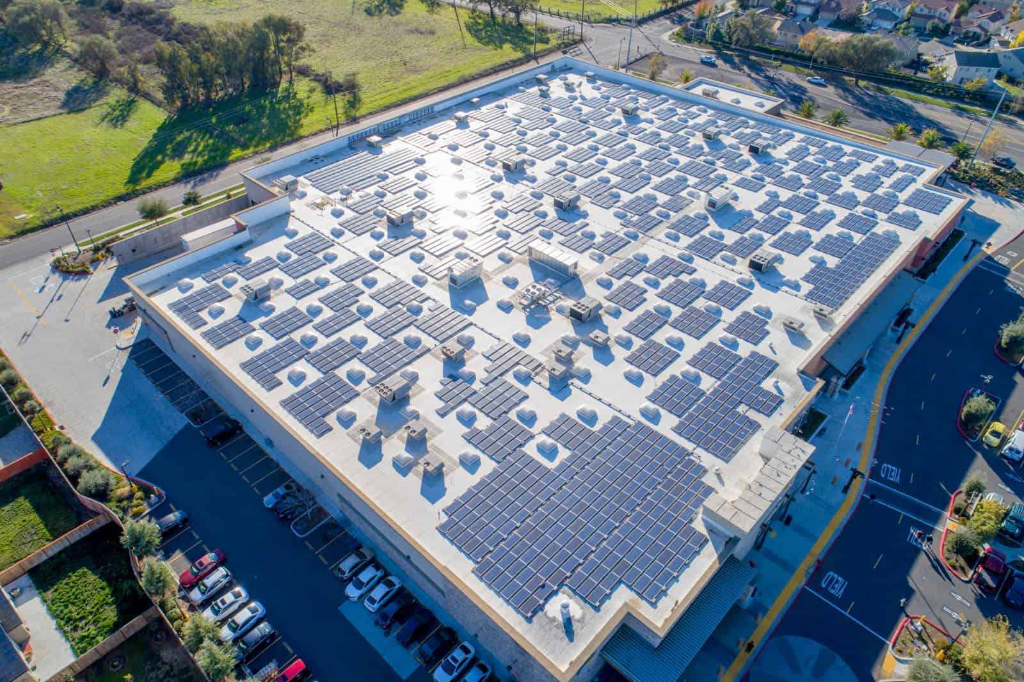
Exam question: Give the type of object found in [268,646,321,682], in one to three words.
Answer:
vehicle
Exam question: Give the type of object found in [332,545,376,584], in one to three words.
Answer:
car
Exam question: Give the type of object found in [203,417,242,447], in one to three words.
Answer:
car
